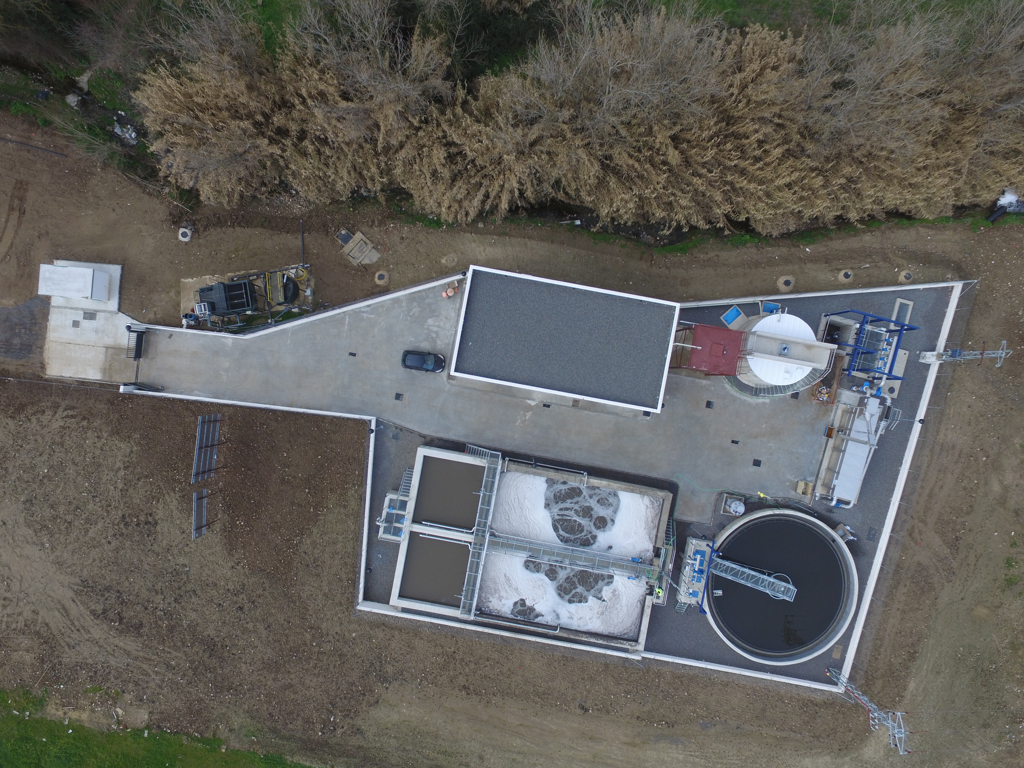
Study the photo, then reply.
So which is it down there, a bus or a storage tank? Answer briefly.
storage tank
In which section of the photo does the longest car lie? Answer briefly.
center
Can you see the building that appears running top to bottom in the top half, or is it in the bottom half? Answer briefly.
bottom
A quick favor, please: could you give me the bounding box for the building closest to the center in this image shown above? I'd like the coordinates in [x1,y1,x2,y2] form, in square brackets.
[450,266,680,413]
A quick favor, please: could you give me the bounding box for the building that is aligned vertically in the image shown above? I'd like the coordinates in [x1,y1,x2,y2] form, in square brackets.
[676,535,717,610]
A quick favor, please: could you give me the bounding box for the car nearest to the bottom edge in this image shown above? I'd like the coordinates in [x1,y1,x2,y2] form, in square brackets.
[400,350,444,372]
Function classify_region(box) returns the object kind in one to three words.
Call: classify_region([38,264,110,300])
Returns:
shed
